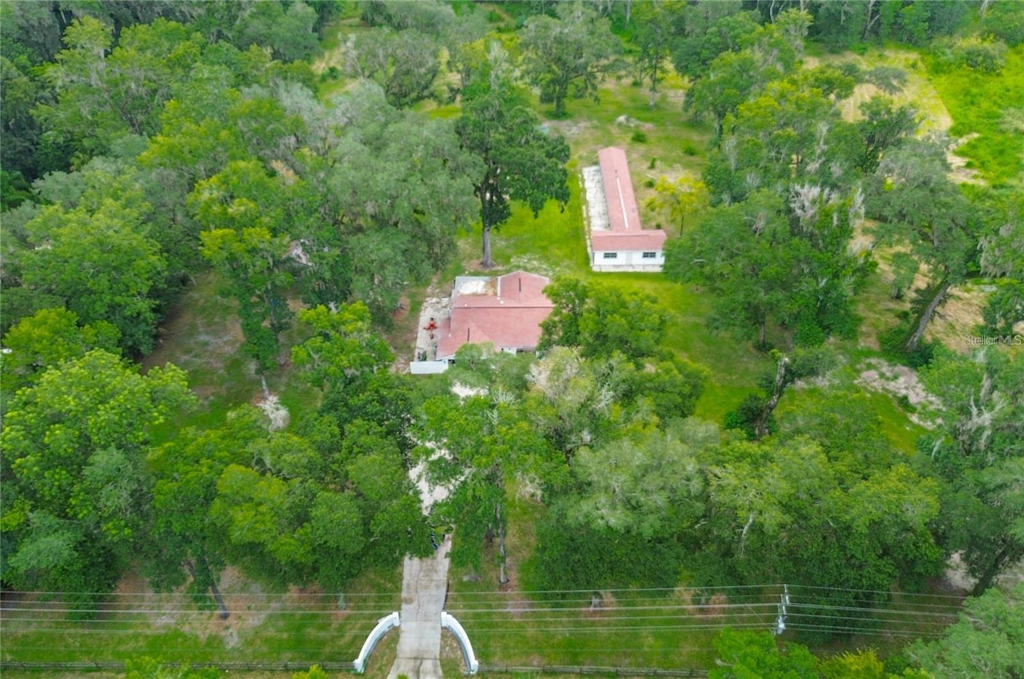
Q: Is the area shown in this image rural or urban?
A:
rural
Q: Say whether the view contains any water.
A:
No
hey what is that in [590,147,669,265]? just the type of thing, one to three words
shed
